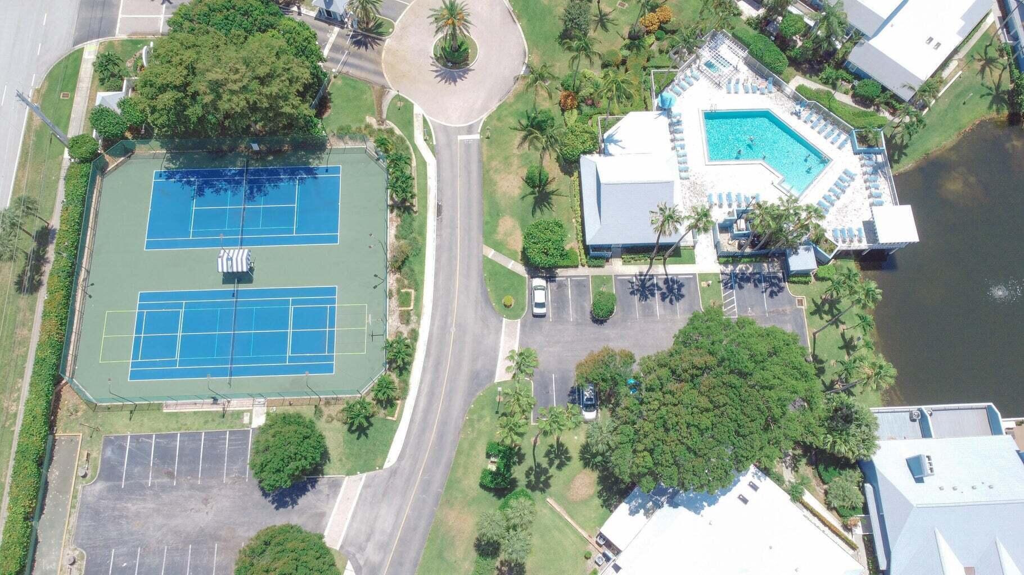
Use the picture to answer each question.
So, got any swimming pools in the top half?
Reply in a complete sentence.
Yes, a swimming pool is visible in the top half.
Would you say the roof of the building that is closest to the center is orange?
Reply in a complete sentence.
No, the color of the roof of the building that is closest to the center is white.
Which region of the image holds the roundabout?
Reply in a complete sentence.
You can find the roundabout in the top area of the picture.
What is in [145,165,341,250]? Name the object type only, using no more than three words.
tennis court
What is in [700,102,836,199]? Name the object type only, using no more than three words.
swimming pool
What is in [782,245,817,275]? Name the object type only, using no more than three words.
shed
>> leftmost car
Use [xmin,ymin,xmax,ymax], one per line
[531,276,549,315]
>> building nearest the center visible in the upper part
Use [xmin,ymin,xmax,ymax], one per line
[580,154,684,259]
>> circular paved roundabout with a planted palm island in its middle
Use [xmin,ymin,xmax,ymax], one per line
[381,0,529,127]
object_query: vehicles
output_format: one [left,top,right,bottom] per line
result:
[531,276,549,315]
[580,380,600,421]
